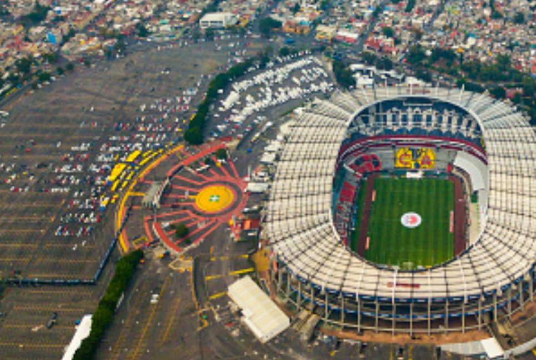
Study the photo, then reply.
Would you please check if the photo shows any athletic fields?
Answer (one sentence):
Yes, the image includes an athletic field.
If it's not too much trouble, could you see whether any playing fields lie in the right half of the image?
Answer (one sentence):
Yes, a playing field appears in the right half of the image.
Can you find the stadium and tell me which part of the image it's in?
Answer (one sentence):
The stadium is in the right part of the image.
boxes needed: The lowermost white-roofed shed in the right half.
[481,338,504,360]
